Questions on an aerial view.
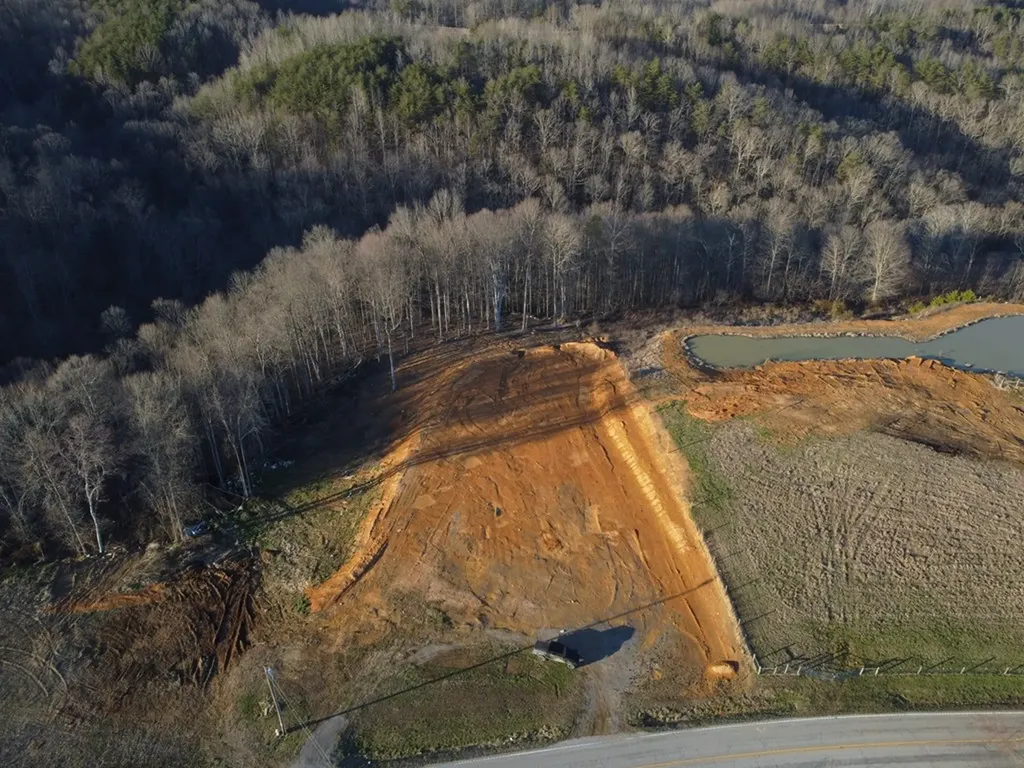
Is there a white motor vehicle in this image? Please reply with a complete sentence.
No, there isn't any white motor vehicle down there.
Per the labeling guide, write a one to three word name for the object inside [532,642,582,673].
truck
